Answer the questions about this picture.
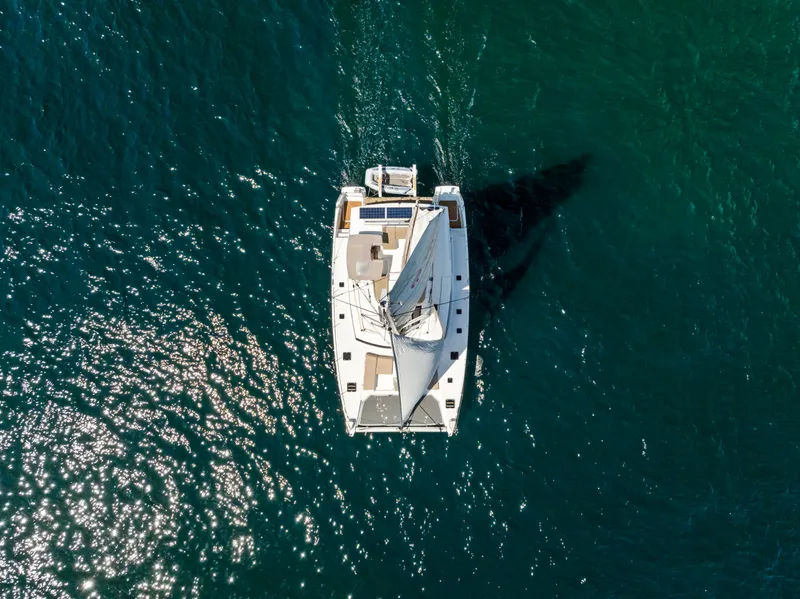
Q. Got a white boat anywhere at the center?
Yes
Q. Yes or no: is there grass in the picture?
No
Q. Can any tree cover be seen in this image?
No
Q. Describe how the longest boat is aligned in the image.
from top to bottom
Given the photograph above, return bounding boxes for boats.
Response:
[330,165,470,434]
[365,166,413,196]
